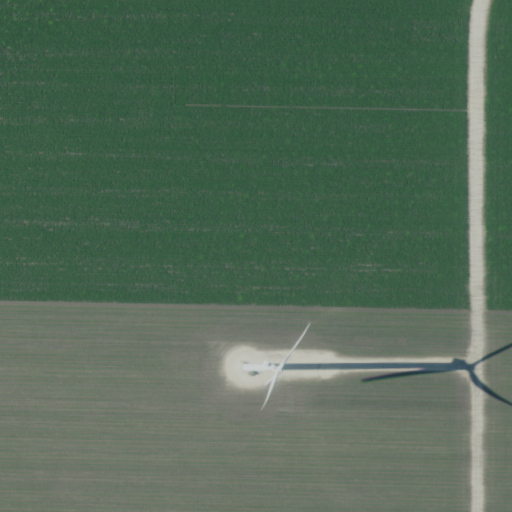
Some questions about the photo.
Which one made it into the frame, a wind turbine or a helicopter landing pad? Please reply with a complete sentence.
Of the two, only a wind turbine appears.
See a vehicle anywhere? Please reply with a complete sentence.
No, no vehicle can be seen from above.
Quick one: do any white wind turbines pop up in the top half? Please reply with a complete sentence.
No, there is no white wind turbine in the top half.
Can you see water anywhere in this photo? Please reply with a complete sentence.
No, there's no water in this view.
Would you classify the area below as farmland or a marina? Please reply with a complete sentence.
The picture captures farmland.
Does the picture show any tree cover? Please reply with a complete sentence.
No, there is no tree cover in the image.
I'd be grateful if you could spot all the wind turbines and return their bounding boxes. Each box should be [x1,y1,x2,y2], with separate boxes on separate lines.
[241,323,310,412]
